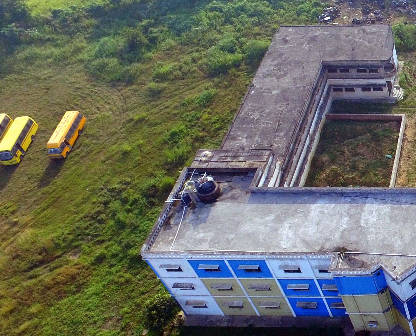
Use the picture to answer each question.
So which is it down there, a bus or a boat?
bus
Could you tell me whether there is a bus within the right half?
No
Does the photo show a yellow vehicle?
Yes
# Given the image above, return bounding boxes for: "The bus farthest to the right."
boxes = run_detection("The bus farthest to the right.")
[36,112,85,158]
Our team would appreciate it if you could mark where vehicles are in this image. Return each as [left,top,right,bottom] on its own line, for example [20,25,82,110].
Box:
[0,112,20,139]
[0,117,43,165]
[36,112,85,158]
